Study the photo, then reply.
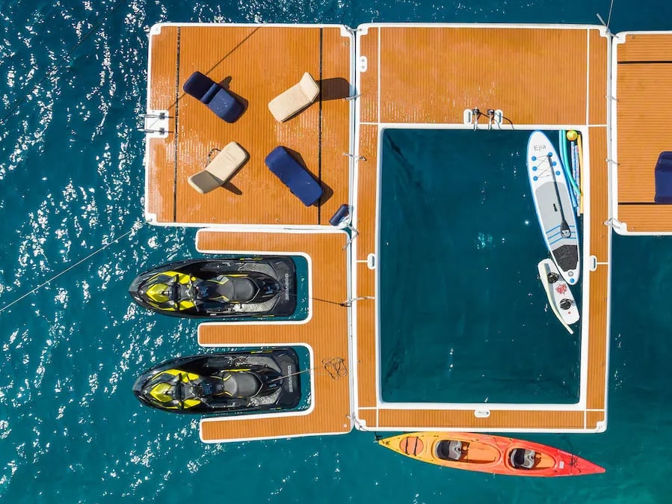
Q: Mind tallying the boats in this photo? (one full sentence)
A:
I count 3 boats.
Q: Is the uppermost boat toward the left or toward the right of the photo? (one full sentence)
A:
The uppermost boat sits on the left side.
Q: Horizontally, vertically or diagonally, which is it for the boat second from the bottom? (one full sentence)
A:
The boat second from the bottom is oriented horizontally.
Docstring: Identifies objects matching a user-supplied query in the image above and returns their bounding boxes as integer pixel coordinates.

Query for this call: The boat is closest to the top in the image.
[130,255,302,318]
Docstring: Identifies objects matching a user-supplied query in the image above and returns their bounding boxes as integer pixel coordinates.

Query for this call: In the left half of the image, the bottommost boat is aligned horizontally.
[133,346,305,414]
